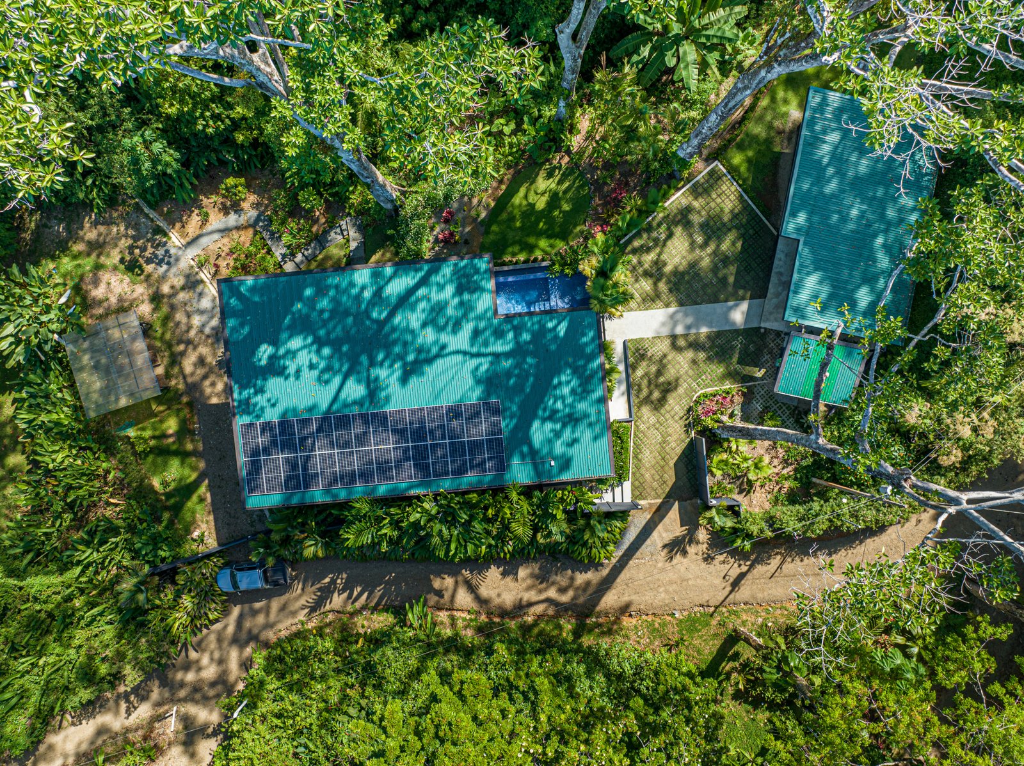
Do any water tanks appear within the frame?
No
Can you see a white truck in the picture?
No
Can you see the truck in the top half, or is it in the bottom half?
bottom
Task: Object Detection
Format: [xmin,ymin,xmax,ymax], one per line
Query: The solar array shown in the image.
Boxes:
[239,401,506,496]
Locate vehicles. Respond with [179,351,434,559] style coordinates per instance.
[214,560,296,596]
